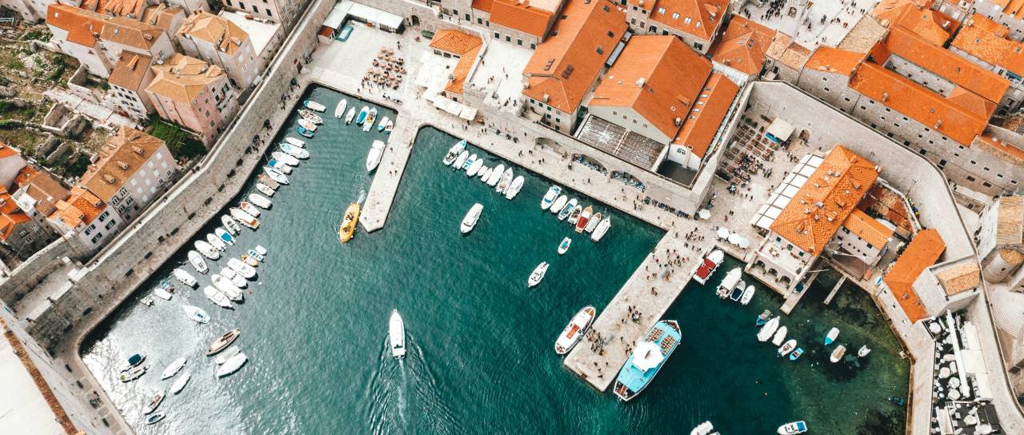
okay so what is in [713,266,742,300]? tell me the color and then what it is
white boat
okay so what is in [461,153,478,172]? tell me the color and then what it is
white boat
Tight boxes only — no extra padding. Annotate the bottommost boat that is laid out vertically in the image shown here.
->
[388,307,406,361]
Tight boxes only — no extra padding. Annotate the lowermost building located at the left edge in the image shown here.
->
[0,307,109,435]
